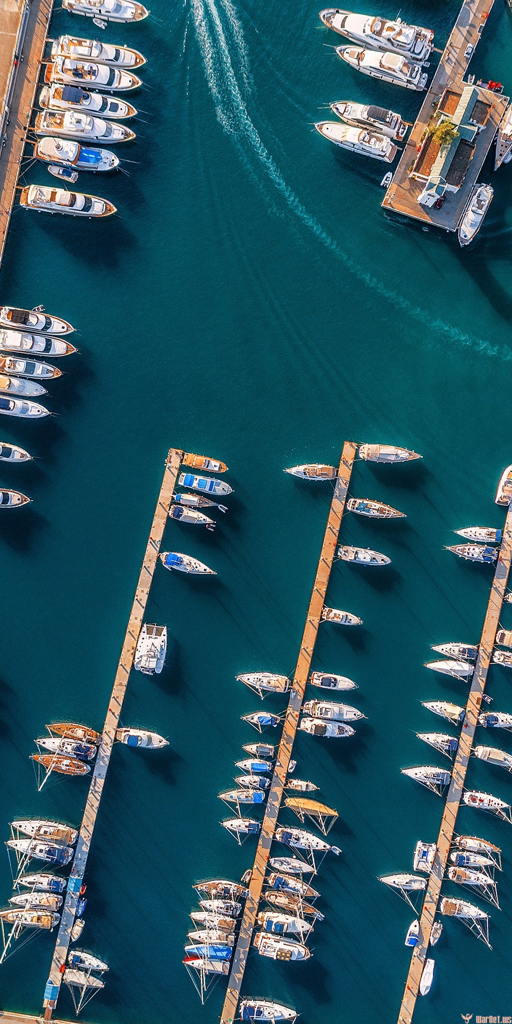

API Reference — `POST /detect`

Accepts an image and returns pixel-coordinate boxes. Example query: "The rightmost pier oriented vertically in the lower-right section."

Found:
[396,503,512,1024]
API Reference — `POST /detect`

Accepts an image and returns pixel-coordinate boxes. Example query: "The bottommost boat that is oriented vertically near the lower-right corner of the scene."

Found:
[420,958,436,996]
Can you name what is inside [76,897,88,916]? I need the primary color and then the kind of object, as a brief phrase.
blue boat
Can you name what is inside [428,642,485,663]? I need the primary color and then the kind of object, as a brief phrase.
white boat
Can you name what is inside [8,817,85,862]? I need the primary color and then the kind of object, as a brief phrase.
white boat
